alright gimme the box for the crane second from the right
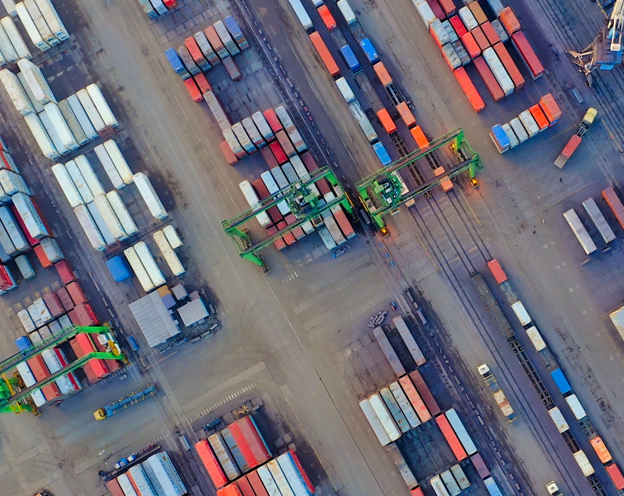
[353,121,483,239]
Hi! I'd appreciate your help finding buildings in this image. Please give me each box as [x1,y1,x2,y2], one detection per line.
[177,299,212,327]
[172,283,189,300]
[129,290,182,348]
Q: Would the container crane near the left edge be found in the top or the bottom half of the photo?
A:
bottom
